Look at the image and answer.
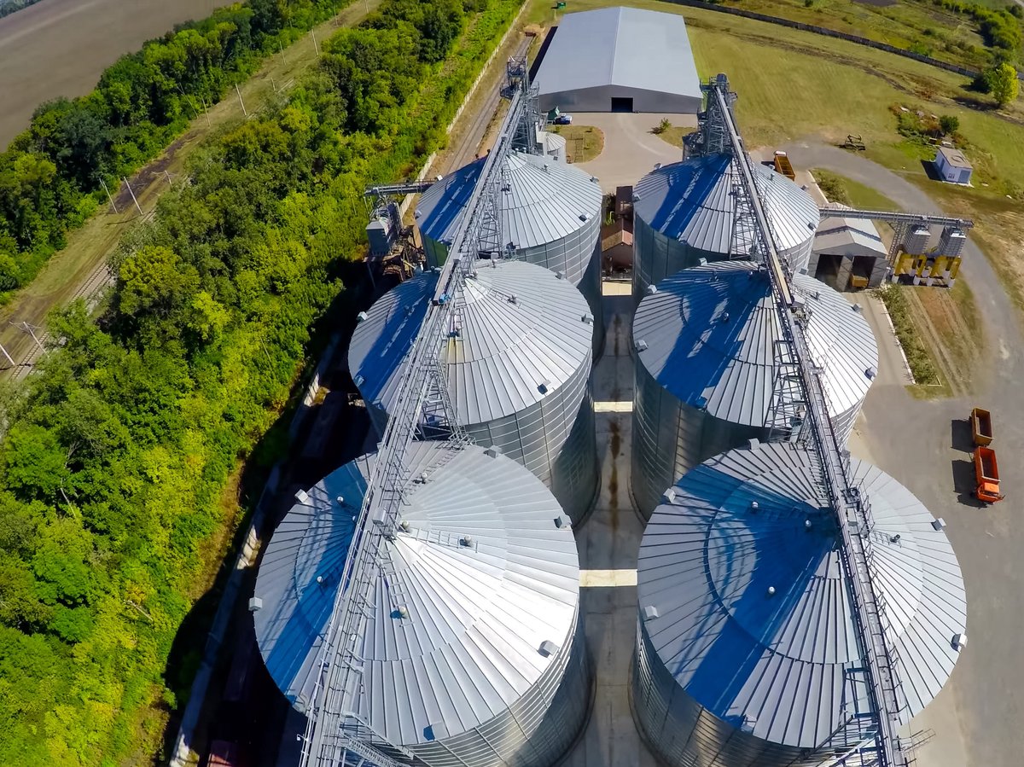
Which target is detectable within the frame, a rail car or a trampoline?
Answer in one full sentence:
There is a rail car in the scene.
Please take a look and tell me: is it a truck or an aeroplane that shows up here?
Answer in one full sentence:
Of the two, only a truck appears.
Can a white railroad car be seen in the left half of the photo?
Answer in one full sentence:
No, I see no white railroad car in the left half of the photo.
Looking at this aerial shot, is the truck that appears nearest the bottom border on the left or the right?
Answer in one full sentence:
It is on the right.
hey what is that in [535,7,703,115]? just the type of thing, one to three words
building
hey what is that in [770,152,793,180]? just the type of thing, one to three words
truck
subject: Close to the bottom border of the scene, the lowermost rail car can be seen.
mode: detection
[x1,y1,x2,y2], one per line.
[206,740,258,767]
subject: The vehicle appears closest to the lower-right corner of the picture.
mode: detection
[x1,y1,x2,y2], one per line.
[971,442,1003,502]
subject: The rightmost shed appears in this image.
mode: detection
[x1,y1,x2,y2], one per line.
[924,145,973,186]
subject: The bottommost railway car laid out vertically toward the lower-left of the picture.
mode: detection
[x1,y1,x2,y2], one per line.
[220,614,276,736]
